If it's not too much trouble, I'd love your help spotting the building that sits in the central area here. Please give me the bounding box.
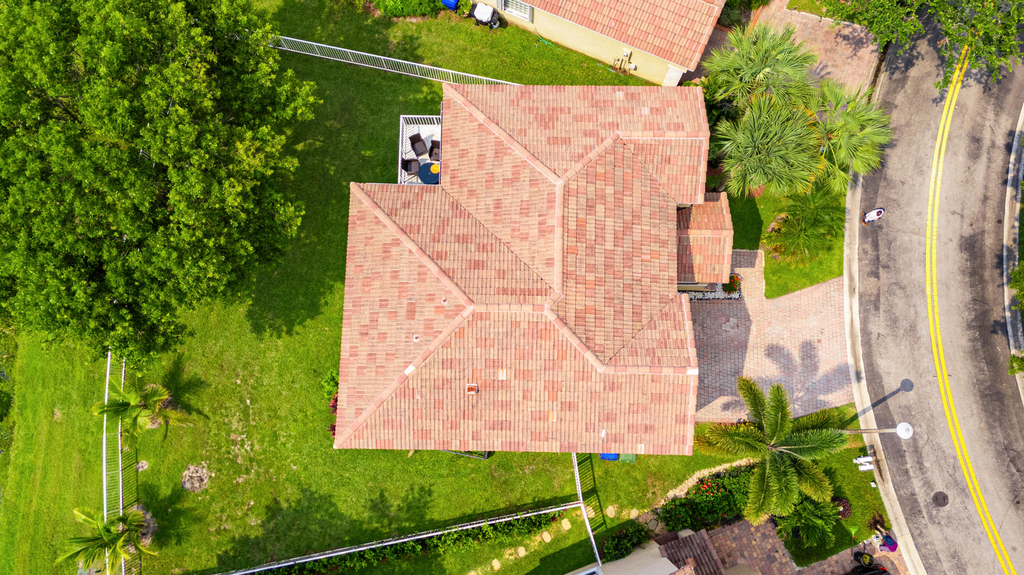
[333,82,734,458]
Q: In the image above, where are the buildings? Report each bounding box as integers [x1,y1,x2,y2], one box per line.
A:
[333,82,734,458]
[561,527,732,575]
[469,0,730,85]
